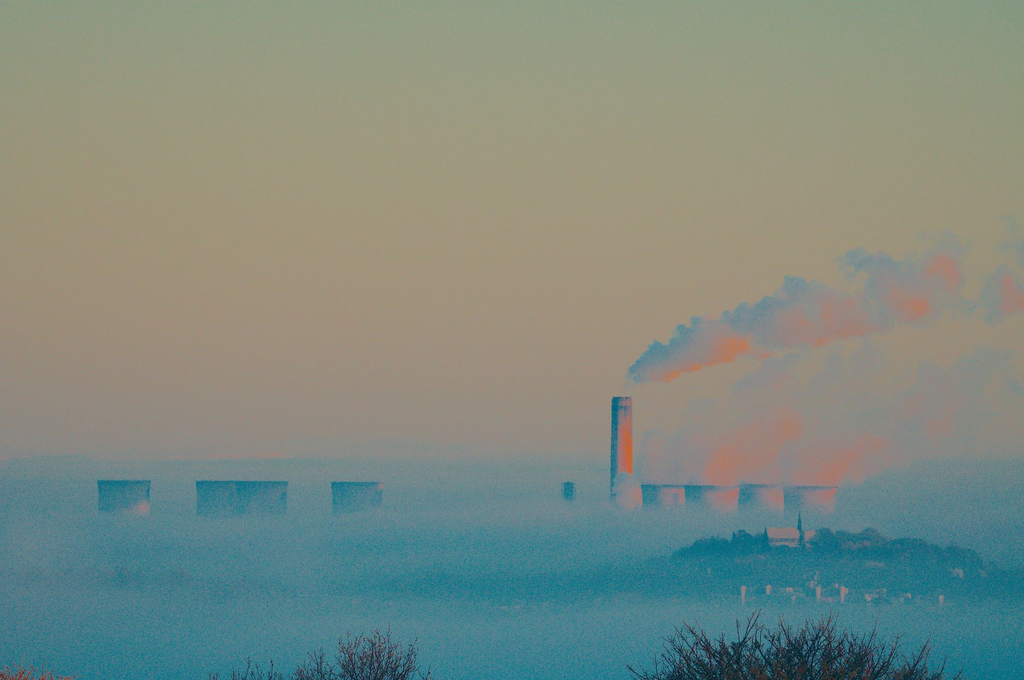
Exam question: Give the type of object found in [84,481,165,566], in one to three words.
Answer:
cooling tower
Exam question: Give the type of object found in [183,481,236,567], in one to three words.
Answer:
cooling tower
